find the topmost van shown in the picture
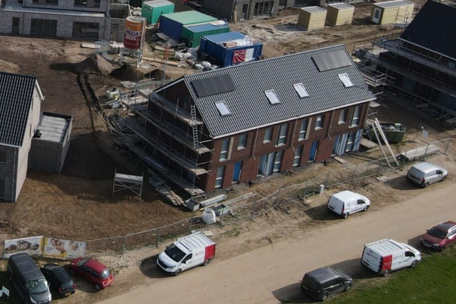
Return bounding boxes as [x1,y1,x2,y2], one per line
[406,158,451,188]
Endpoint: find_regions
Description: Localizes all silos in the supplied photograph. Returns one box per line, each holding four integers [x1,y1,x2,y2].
[122,11,151,67]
